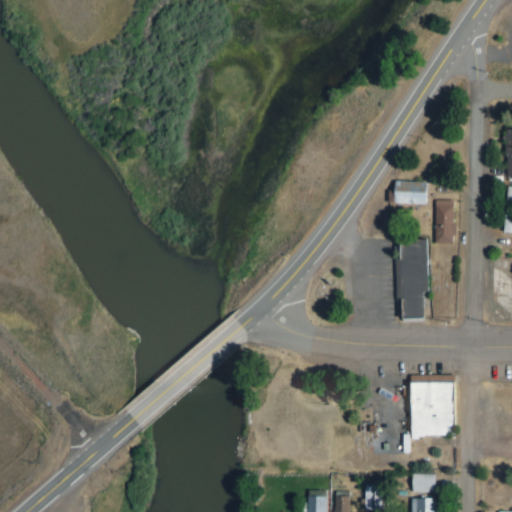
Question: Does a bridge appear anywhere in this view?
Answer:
Yes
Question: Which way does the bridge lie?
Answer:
diagonally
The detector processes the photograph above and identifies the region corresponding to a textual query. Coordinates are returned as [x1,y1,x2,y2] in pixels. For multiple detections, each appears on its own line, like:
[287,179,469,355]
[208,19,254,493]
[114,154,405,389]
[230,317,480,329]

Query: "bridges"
[118,310,256,442]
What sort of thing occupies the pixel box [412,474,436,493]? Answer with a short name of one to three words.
building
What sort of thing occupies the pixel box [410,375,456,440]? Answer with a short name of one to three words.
building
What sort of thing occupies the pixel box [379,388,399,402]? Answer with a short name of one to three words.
vehicle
